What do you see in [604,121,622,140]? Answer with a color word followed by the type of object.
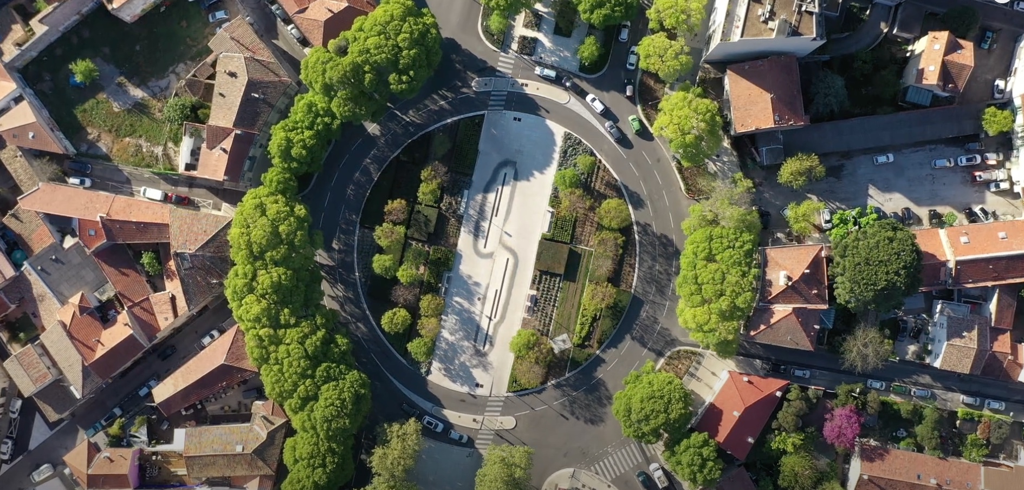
gray car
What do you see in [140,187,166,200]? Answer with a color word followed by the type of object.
white vehicle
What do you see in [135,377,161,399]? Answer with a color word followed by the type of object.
blue truck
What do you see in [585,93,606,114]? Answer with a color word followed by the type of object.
white car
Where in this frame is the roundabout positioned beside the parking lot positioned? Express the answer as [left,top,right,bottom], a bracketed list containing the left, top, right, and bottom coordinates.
[310,45,697,481]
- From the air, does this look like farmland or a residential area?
residential area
